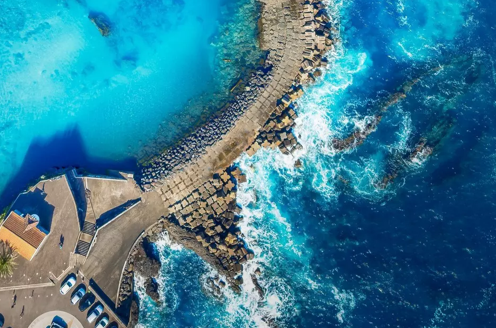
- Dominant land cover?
water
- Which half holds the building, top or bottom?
bottom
